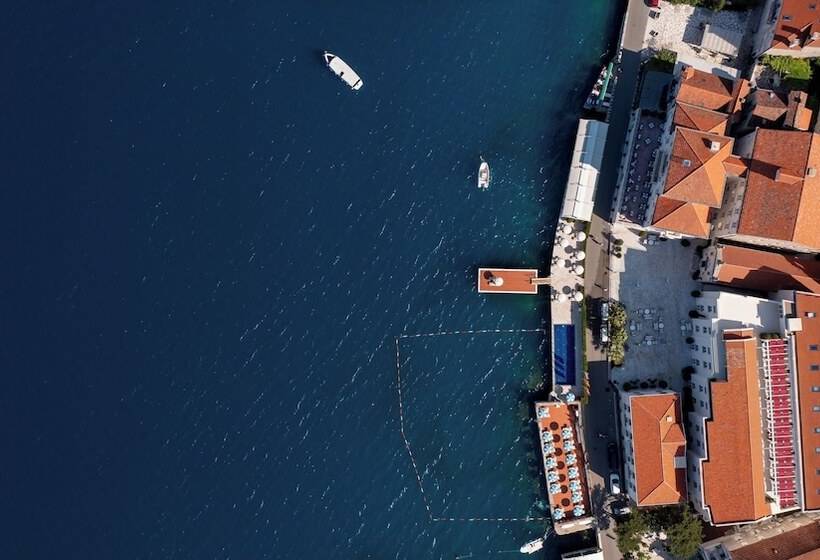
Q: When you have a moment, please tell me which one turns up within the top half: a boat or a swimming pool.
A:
boat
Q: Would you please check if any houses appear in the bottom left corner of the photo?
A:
No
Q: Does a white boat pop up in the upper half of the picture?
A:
Yes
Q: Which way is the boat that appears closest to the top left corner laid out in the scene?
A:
on a diagonal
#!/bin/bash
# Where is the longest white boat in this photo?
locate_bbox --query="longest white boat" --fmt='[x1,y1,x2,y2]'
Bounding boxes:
[325,55,366,95]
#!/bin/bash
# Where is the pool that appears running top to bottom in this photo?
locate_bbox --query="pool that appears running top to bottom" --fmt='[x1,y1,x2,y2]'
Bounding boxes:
[553,323,578,387]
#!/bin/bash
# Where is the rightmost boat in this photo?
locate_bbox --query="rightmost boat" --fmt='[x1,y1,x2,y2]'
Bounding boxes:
[581,68,610,114]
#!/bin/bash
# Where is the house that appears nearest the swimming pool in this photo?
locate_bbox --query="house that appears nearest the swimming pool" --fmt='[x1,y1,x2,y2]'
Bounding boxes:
[620,389,689,506]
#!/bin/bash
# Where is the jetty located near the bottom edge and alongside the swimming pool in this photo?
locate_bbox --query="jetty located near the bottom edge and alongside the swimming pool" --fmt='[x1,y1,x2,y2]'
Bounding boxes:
[534,400,597,535]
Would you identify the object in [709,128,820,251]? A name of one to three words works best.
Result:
house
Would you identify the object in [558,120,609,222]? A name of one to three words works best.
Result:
building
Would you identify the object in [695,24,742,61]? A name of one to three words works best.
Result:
shed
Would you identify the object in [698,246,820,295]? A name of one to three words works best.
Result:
house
